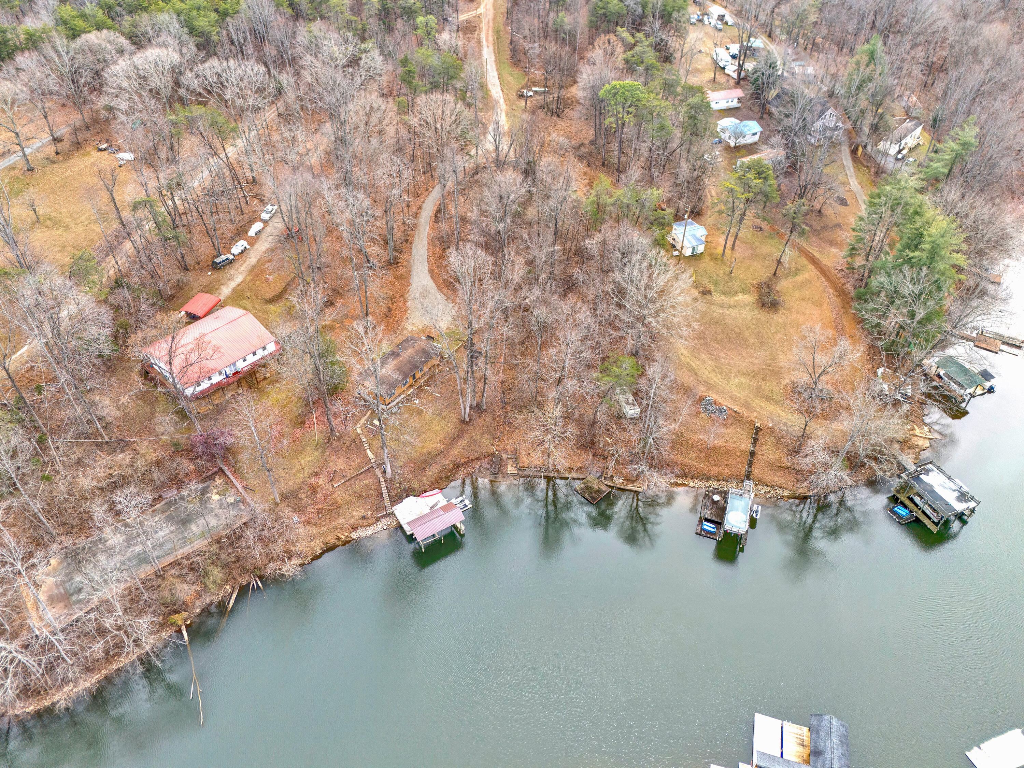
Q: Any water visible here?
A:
Yes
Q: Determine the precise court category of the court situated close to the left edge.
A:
tennis court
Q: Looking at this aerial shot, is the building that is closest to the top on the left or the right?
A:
right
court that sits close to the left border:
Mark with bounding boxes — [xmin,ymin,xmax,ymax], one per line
[40,477,250,620]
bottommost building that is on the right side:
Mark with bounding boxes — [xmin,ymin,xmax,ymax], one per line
[920,356,987,401]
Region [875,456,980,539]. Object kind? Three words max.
pier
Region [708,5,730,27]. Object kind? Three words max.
building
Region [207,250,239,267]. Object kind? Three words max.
car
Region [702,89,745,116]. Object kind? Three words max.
house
